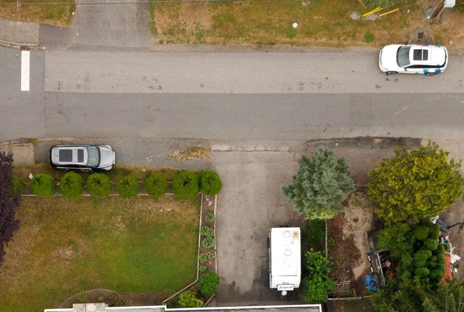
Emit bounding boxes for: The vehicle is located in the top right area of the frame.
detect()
[378,43,447,77]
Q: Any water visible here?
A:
No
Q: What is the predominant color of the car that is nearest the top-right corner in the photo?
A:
white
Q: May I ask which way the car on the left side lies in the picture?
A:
horizontally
